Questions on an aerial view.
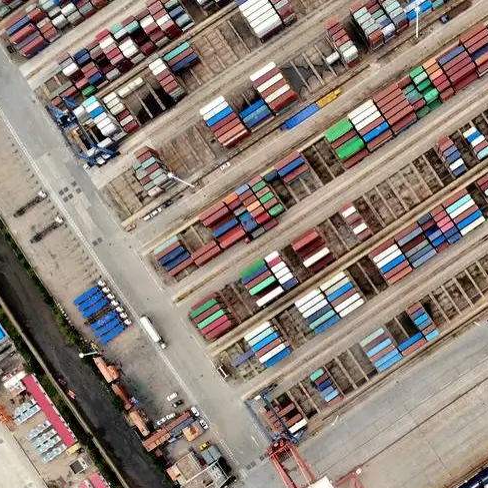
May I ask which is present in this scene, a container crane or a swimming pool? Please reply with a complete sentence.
It is a container crane that can be seen here.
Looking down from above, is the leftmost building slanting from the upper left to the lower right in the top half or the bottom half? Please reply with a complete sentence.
Seen from above, the leftmost building slanting from the upper left to the lower right lies in the bottom half of the view.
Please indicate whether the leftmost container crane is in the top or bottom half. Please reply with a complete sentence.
Seen from above, the leftmost container crane lies in the top half of the view.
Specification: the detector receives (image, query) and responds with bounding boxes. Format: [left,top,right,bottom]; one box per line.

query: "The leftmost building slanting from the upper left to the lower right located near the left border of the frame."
[21,374,76,448]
